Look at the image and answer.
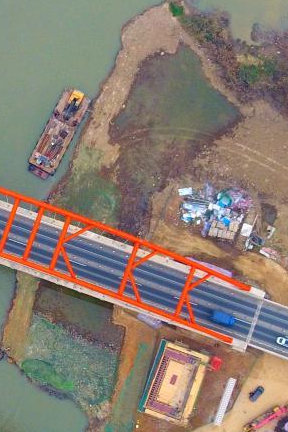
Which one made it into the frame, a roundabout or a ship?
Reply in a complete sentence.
Visible in the photo is a ship.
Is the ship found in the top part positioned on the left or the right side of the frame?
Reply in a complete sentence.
The ship found in the top part appears in the left half of the scene.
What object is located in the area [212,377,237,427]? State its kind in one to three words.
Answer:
shed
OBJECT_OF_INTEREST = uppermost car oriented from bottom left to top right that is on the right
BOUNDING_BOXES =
[248,385,267,402]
